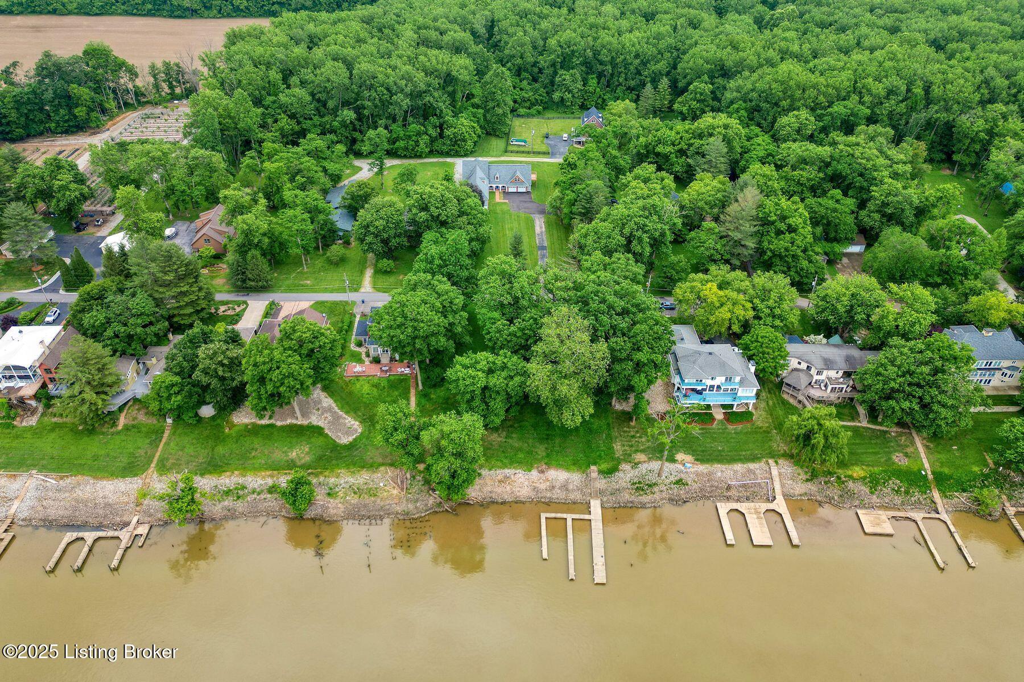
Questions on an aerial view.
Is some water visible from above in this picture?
Yes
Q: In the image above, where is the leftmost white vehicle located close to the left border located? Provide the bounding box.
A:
[44,309,60,323]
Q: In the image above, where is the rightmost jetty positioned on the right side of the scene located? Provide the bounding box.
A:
[999,495,1024,544]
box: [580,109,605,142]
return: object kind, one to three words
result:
house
